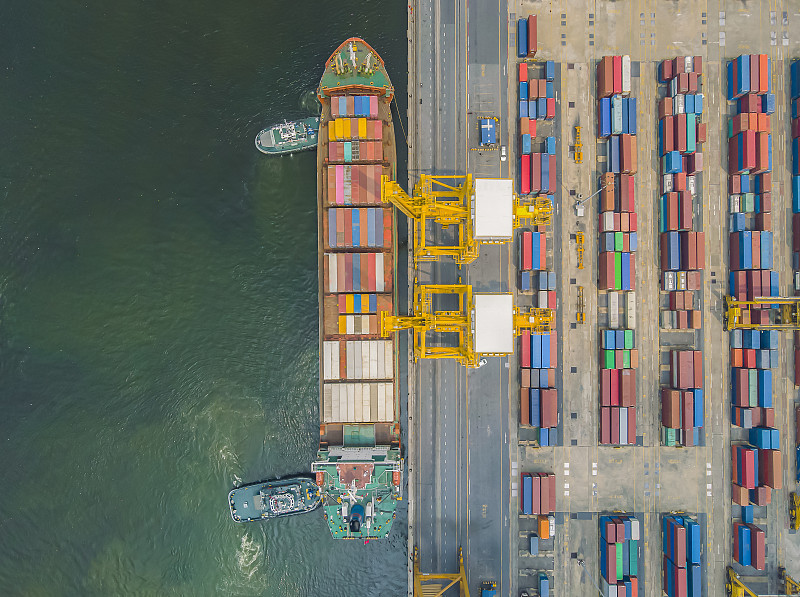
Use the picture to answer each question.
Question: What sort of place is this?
port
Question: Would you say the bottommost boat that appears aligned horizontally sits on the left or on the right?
left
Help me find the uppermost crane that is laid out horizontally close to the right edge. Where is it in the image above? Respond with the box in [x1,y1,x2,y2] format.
[725,295,800,332]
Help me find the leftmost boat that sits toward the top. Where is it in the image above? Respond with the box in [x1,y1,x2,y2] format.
[254,117,319,157]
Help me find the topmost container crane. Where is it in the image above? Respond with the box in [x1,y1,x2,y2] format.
[380,173,558,273]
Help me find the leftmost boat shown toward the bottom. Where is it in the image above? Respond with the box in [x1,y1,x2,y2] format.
[226,476,320,520]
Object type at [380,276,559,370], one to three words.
container crane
